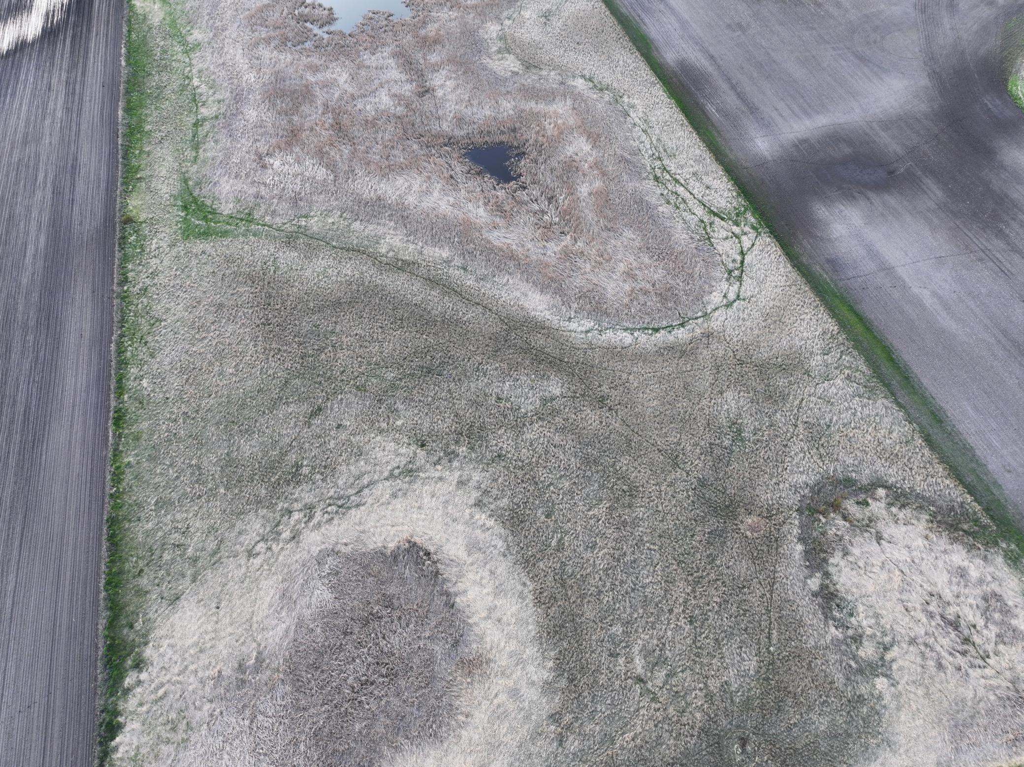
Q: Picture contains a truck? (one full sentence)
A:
No, no truck is visible in the view.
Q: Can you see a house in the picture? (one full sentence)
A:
No, I find no house anywhere in the image.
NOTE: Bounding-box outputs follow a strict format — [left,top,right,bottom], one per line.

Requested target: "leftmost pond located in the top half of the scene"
[284,0,414,47]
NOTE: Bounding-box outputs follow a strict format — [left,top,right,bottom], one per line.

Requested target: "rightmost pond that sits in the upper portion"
[461,142,530,187]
